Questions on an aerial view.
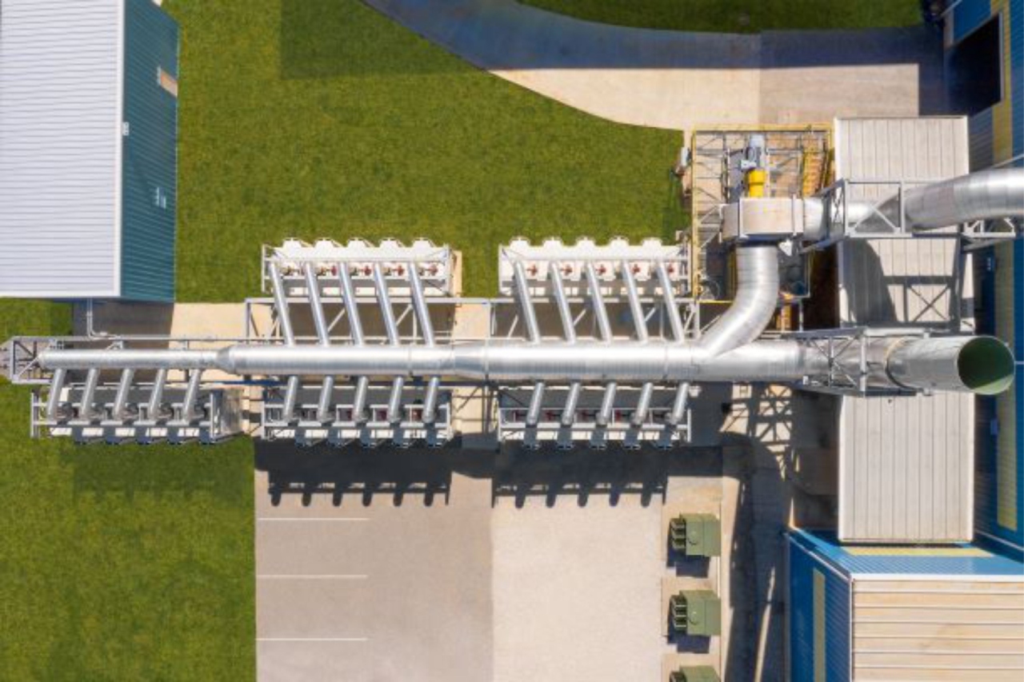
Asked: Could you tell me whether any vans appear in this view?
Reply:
No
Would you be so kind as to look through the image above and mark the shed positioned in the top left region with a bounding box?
[0,0,177,303]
